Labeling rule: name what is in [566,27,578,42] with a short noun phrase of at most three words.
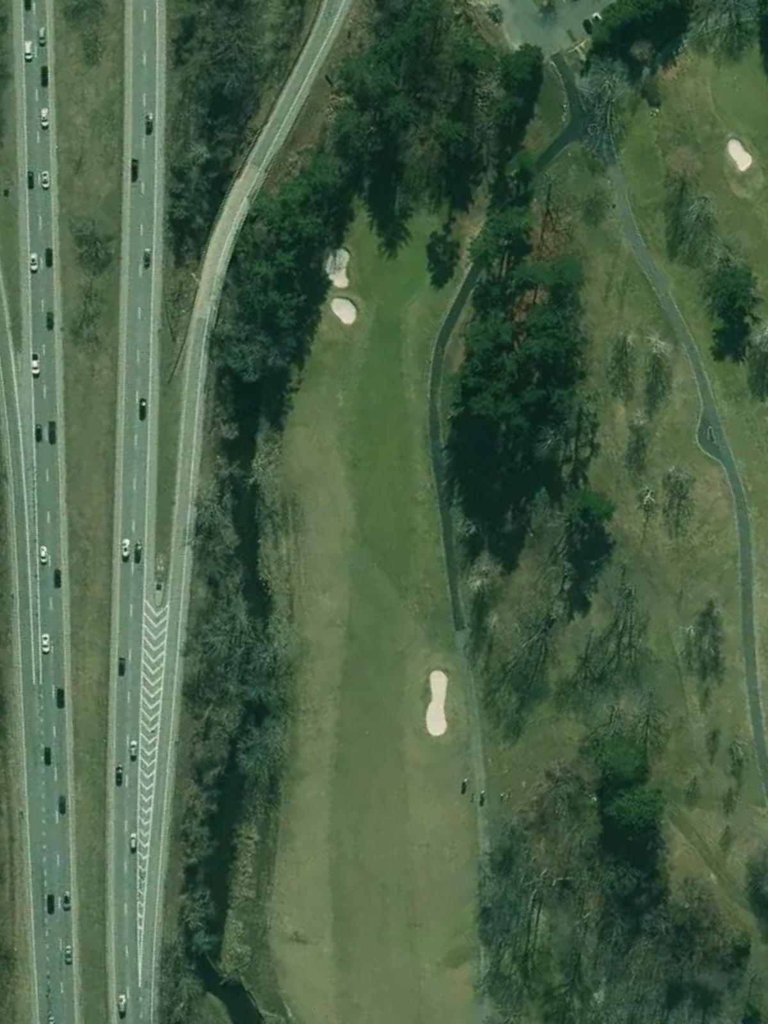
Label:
vehicle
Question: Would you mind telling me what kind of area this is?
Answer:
golf course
